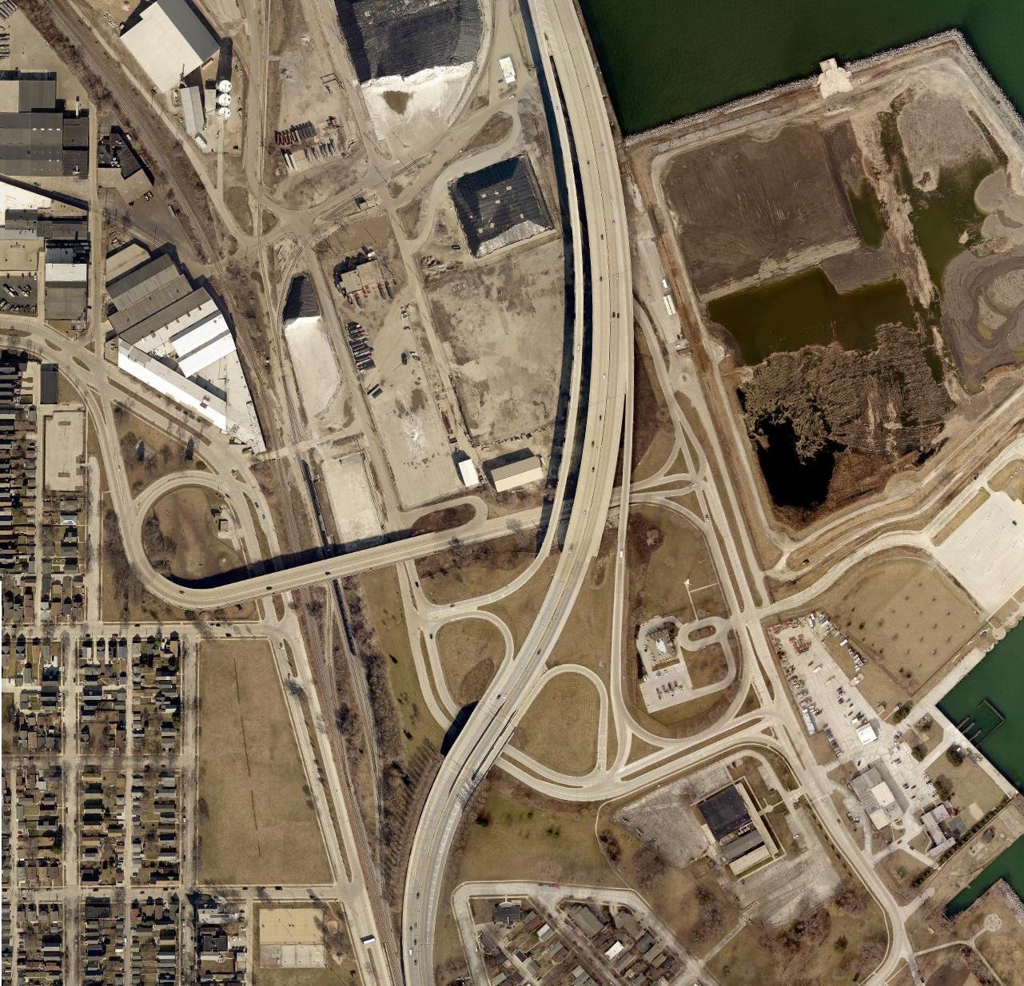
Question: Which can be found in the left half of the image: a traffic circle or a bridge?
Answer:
bridge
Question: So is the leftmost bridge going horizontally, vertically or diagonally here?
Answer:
horizontally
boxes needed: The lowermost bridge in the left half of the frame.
[125,521,450,608]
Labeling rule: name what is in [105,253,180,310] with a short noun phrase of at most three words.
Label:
shed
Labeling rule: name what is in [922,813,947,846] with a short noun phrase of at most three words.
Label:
house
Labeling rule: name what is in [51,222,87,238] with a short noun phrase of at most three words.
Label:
building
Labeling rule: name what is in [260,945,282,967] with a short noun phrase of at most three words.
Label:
tennis court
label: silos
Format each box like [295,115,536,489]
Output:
[217,78,231,93]
[216,105,230,120]
[216,92,231,106]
